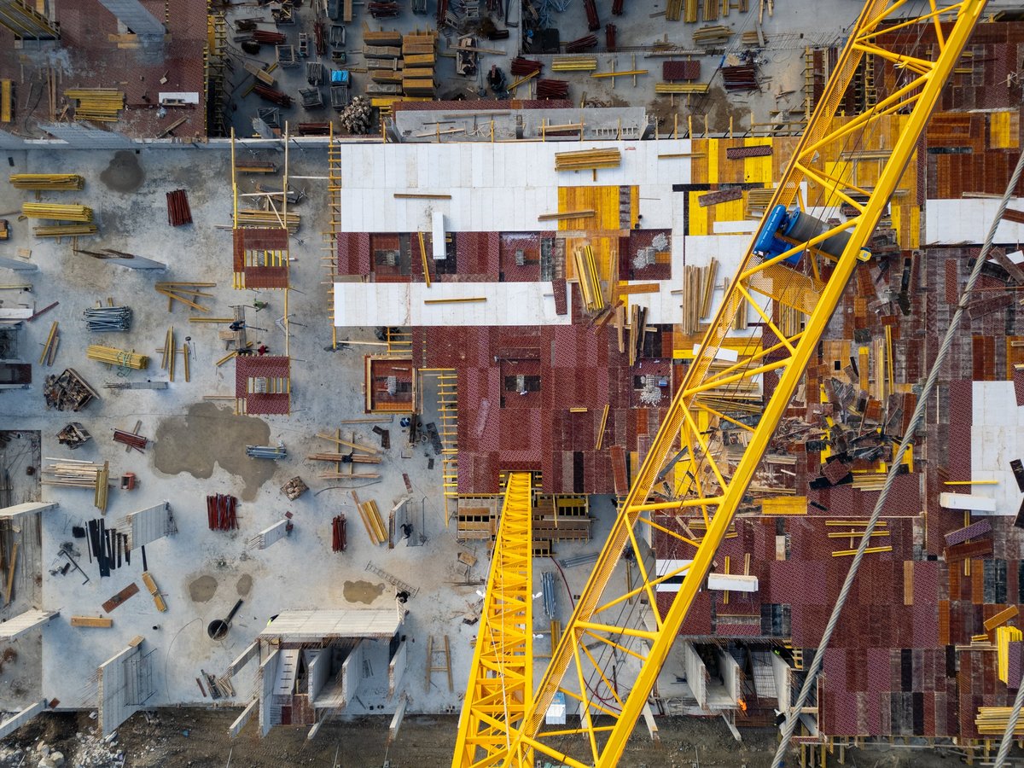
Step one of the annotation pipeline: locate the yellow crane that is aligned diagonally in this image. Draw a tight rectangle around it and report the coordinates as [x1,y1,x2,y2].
[449,0,983,768]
